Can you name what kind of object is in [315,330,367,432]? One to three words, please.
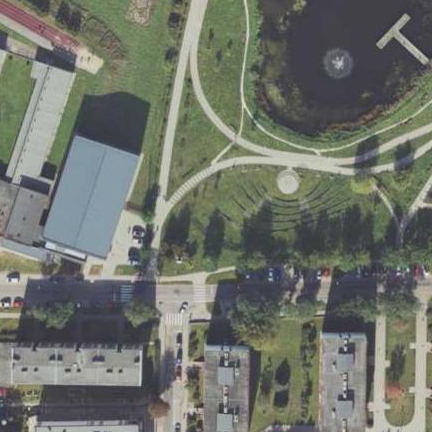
building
